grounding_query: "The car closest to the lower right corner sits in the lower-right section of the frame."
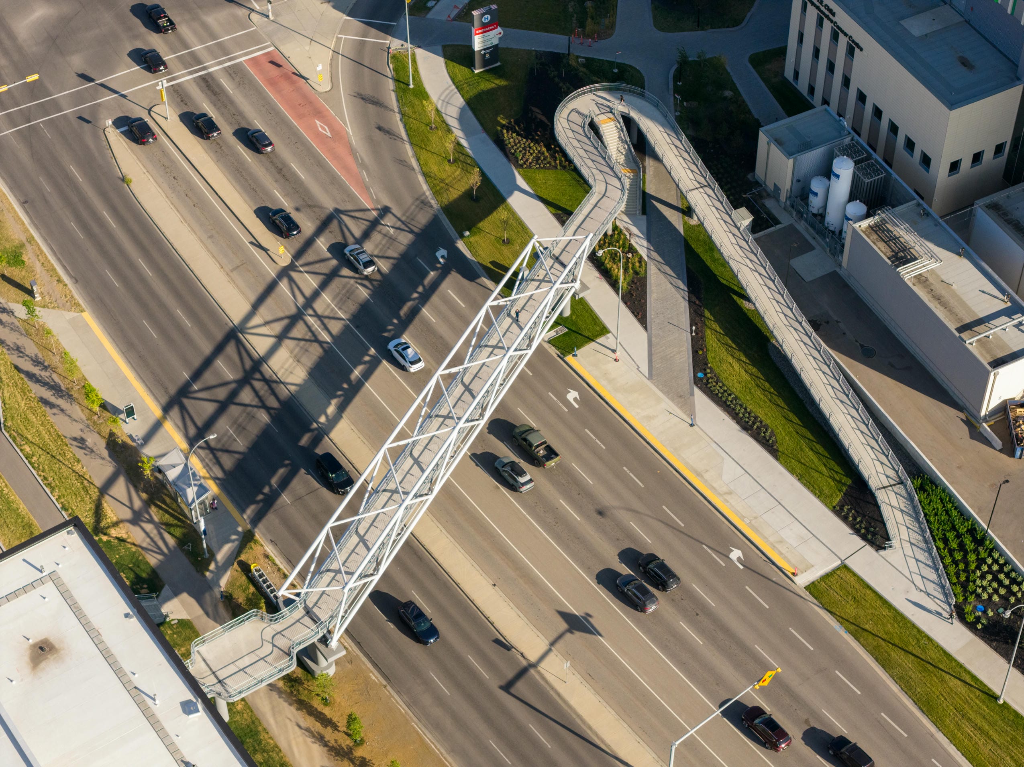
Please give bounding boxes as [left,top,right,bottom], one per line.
[825,731,877,767]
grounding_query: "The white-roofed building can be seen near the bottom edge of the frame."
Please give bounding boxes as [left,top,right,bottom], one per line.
[0,514,259,767]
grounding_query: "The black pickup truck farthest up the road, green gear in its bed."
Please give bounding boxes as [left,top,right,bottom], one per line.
[145,3,179,36]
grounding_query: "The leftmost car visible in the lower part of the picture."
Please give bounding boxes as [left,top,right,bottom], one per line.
[317,447,355,498]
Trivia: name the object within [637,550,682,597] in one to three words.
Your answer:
car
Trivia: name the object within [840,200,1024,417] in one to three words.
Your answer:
building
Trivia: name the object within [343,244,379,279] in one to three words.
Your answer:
car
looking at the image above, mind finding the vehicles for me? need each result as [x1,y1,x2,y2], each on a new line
[616,572,660,619]
[513,423,562,470]
[825,731,877,767]
[268,207,301,242]
[398,596,440,649]
[145,3,179,36]
[387,338,425,376]
[317,447,355,498]
[142,48,168,76]
[343,244,379,279]
[494,455,535,496]
[247,128,277,158]
[637,550,682,597]
[193,112,223,142]
[742,704,794,758]
[128,117,157,148]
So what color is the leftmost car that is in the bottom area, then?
black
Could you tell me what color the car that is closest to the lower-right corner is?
black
